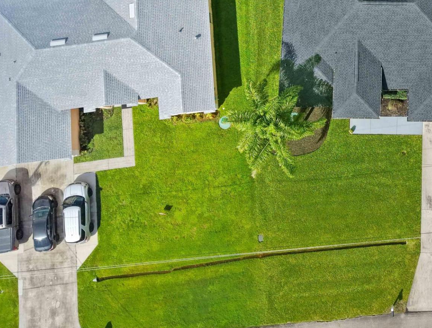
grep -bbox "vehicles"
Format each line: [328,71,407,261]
[59,183,93,244]
[0,180,20,254]
[29,195,61,253]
